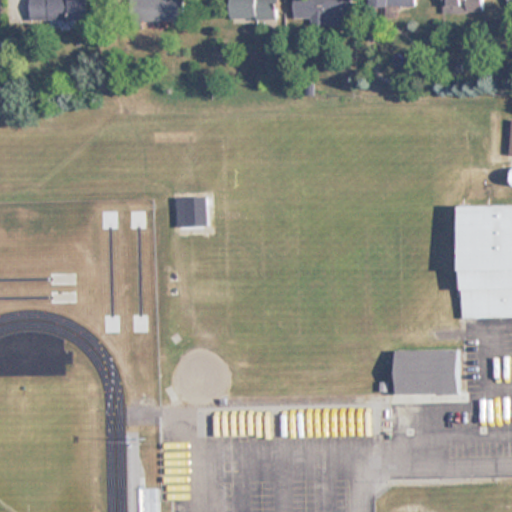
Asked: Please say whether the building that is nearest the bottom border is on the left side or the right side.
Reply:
right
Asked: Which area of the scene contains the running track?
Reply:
bottom left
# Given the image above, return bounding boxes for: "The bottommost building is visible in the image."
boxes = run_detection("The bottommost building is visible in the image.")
[392,348,458,394]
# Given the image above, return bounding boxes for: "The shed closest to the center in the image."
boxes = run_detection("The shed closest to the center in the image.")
[176,198,208,227]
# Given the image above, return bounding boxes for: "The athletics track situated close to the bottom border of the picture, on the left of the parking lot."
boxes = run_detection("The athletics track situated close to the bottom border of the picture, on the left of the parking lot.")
[0,310,127,512]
